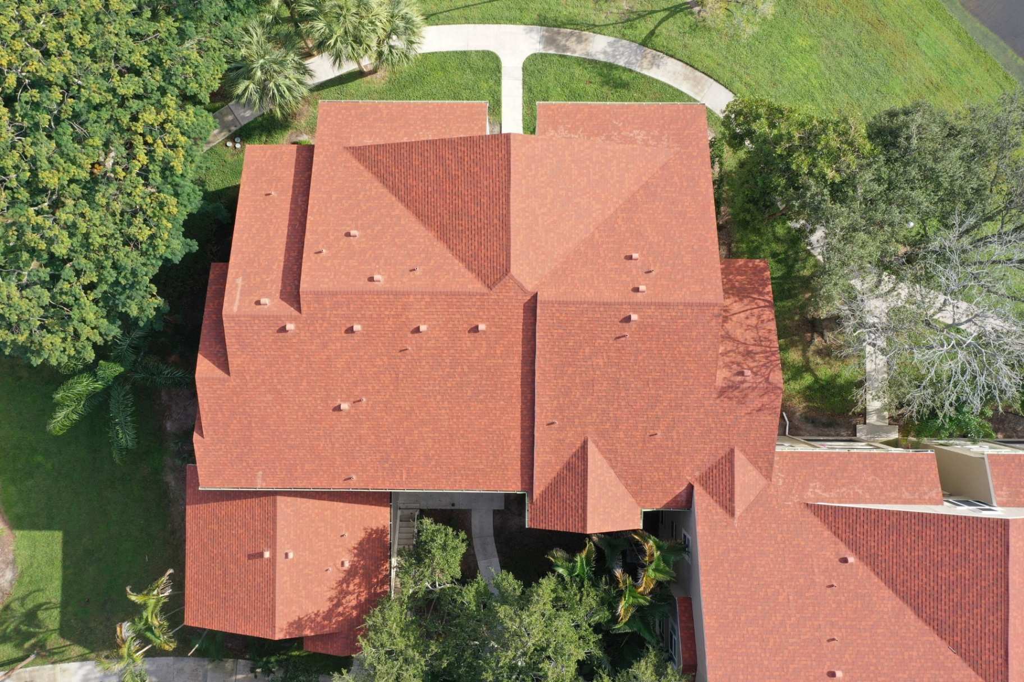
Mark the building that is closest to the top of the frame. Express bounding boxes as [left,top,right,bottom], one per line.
[193,97,790,533]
